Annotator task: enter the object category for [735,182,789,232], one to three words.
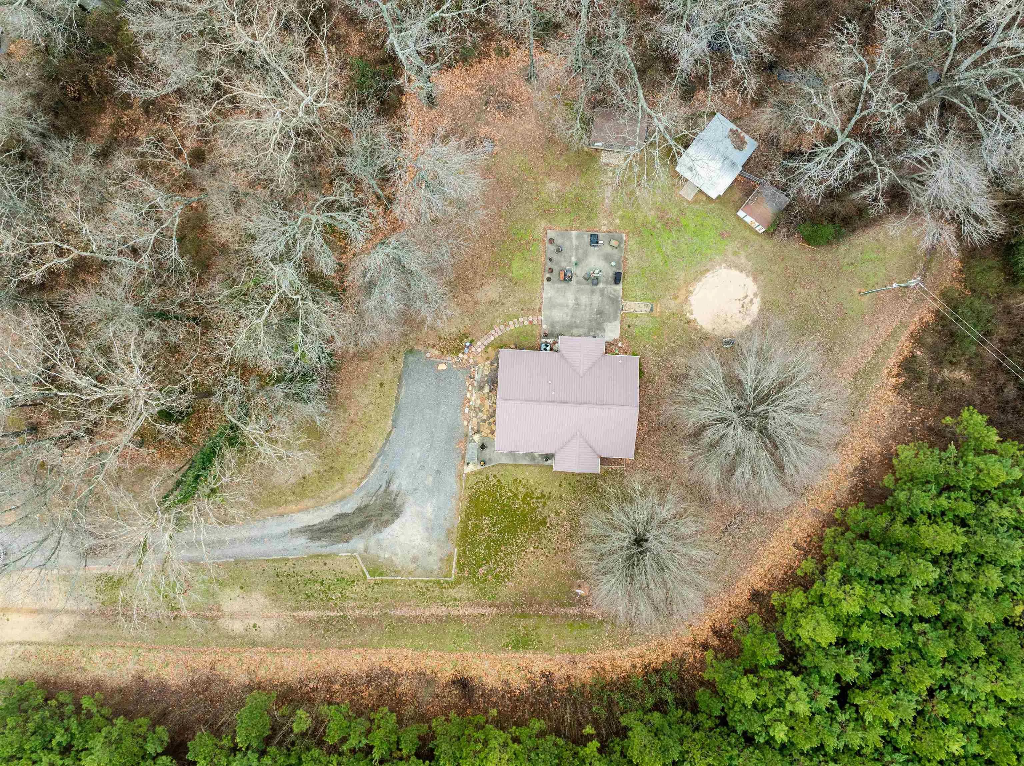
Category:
shed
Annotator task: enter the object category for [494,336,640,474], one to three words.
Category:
house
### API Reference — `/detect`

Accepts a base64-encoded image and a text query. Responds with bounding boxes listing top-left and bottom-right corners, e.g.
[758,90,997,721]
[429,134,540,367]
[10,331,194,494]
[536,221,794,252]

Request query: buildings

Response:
[586,108,647,156]
[494,336,640,474]
[675,112,758,200]
[735,182,789,232]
